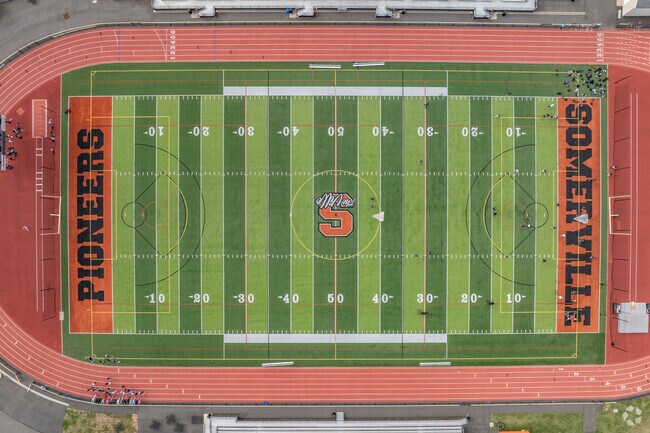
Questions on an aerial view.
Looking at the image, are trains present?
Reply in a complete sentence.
No, the frame has no train in it.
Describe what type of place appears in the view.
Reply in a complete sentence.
This looks like a sports ground.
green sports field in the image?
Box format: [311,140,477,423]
[62,62,606,366]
